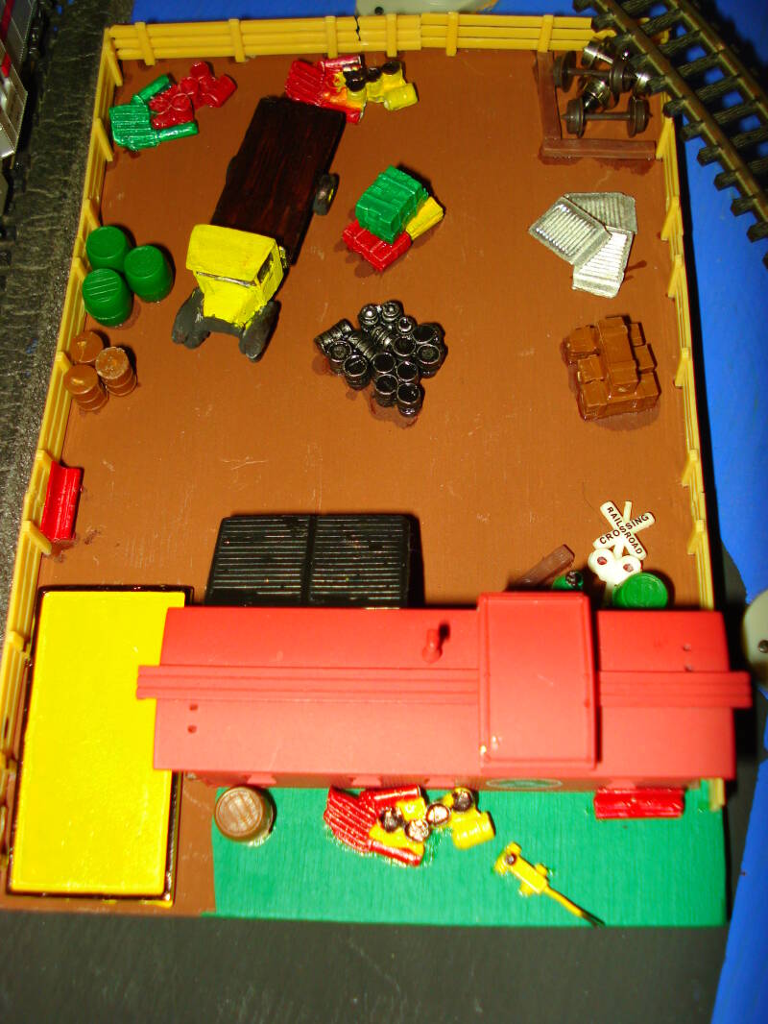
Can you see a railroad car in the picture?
Yes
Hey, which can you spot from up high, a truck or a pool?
truck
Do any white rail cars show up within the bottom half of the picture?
No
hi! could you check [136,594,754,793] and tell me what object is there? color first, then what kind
red rail car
